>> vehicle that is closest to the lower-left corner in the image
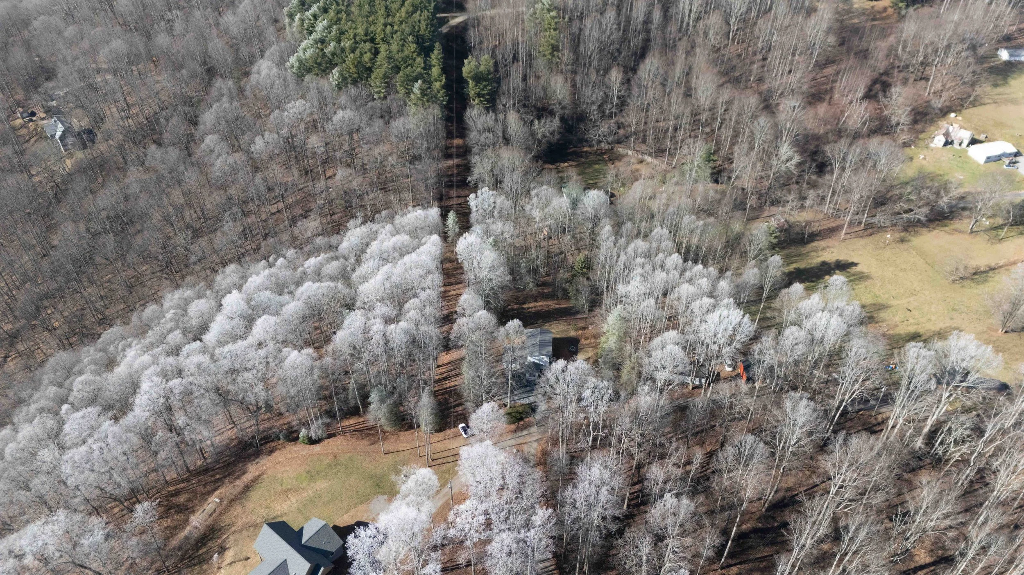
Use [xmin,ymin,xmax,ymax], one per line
[455,422,471,439]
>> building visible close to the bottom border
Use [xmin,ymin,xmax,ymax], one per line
[245,519,344,575]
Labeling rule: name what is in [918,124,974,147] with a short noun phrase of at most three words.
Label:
house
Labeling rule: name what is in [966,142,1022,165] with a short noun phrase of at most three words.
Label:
house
